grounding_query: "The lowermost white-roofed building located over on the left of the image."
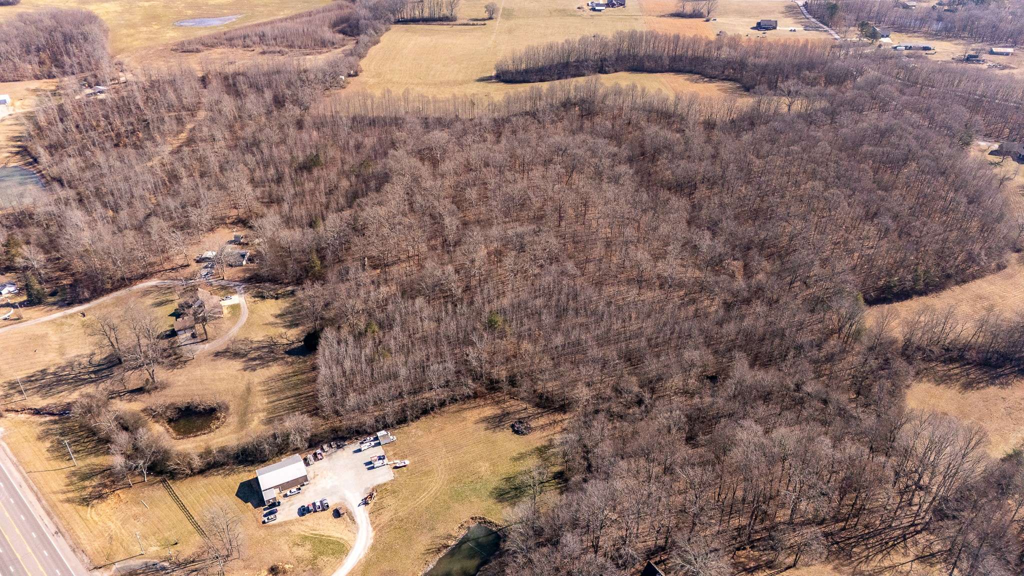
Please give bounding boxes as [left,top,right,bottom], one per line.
[254,453,307,505]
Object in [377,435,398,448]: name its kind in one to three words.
vehicle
